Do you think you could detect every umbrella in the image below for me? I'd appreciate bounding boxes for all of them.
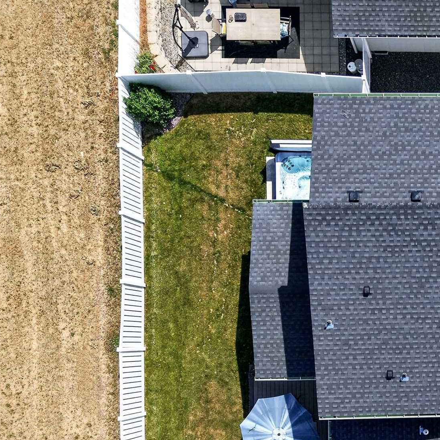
[240,393,320,440]
[173,2,210,59]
